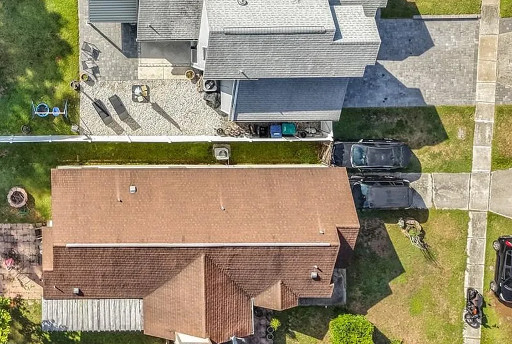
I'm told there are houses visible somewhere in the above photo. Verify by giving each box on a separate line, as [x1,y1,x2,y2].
[134,0,388,126]
[43,163,360,344]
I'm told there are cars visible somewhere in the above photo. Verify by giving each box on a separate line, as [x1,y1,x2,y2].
[328,136,414,177]
[348,175,415,213]
[488,233,512,308]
